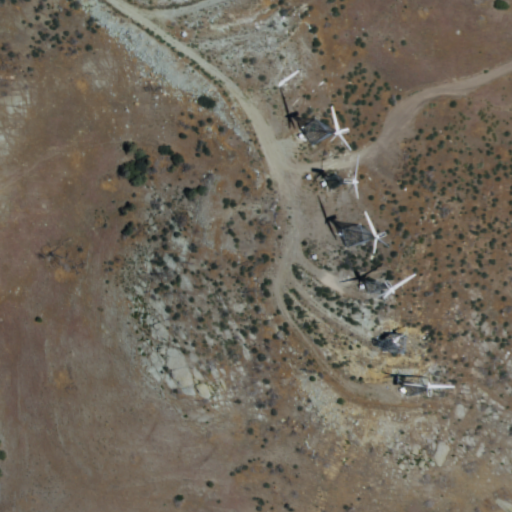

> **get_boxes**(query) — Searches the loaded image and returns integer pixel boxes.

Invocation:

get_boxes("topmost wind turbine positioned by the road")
[302,106,349,150]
